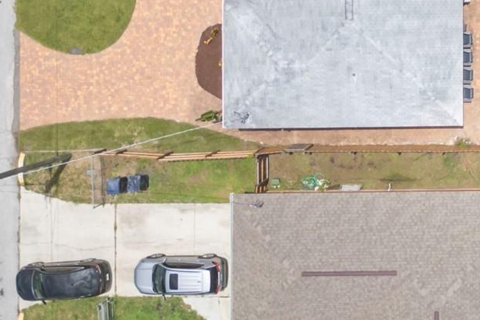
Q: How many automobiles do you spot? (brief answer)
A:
two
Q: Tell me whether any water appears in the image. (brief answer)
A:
No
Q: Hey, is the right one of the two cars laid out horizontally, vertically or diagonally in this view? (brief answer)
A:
horizontally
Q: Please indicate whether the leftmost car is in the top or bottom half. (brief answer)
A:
bottom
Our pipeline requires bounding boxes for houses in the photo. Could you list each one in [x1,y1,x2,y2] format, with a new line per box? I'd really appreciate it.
[229,189,480,320]
[222,0,463,128]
